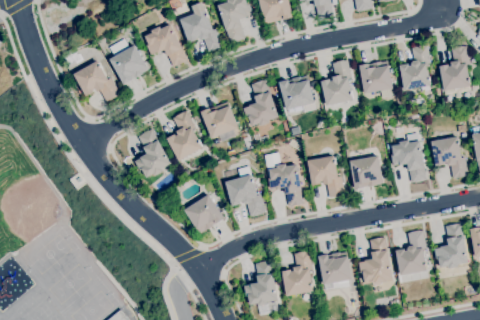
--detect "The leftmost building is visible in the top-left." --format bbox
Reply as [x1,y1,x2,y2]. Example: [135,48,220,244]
[72,62,117,102]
